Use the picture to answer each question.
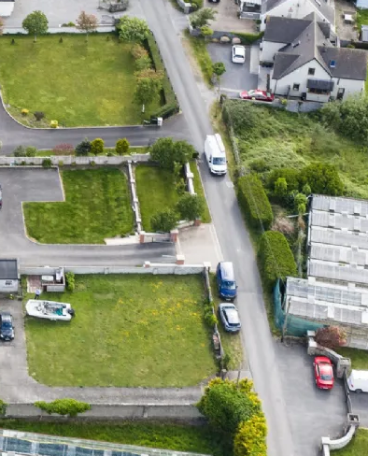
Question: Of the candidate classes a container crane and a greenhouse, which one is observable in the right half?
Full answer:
Looking in the right half, you will find a greenhouse.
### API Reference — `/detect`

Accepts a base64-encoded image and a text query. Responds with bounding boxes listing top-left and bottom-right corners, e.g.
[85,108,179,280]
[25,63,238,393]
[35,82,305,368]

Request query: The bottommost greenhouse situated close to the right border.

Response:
[282,278,368,346]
